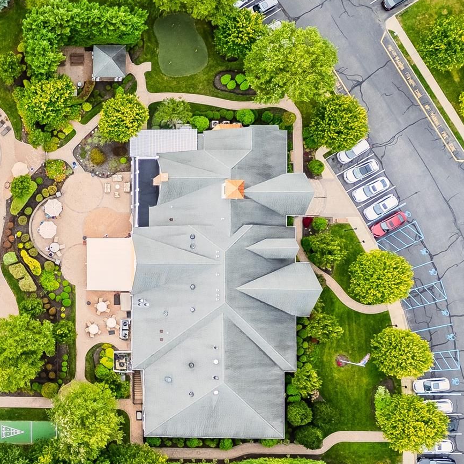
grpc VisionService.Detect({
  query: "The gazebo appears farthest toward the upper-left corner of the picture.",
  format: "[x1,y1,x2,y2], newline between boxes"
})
[89,45,126,84]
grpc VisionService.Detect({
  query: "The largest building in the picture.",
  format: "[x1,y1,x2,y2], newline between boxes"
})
[85,124,324,438]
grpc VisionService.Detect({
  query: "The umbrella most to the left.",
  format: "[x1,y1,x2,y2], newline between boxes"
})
[12,161,28,177]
